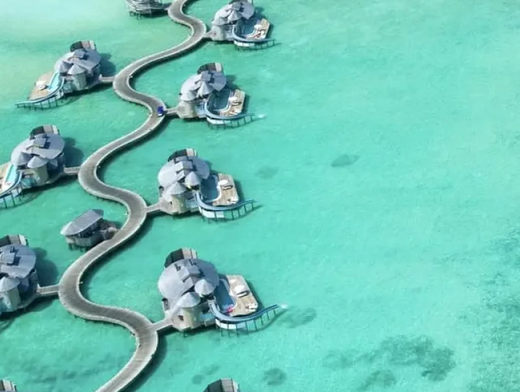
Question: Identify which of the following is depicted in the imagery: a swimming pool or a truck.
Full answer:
Looking from above, you can make out a swimming pool.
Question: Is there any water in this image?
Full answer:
Yes, water shows up in the scene.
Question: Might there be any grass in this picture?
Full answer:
No, no grass is visible.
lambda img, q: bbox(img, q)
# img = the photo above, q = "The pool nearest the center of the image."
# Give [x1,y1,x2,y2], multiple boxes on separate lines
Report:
[204,173,225,204]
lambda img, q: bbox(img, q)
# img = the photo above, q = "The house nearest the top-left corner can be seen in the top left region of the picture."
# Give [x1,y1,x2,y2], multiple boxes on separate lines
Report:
[26,43,106,114]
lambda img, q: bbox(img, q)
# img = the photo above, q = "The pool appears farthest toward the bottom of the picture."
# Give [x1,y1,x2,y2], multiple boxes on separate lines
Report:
[212,276,236,316]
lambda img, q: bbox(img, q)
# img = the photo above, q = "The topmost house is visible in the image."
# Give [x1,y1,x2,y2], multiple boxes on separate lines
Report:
[213,0,291,52]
